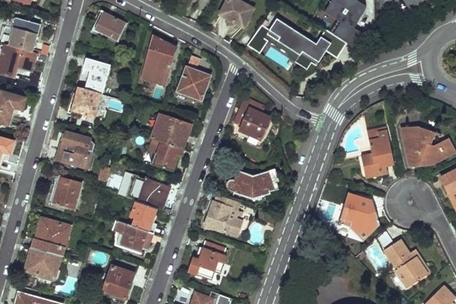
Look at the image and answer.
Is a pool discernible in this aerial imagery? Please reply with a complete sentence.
Yes, the picture does show a pool.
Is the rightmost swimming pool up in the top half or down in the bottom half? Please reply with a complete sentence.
Seen from above, the rightmost swimming pool lies in the bottom half of the view.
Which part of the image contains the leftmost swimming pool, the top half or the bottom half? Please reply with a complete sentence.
The leftmost swimming pool sits in the bottom half of the picture.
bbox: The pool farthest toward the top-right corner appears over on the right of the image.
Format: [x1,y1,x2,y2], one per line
[346,124,362,152]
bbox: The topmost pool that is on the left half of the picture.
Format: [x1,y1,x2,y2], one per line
[150,84,166,100]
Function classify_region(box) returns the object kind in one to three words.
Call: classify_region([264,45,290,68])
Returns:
swimming pool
